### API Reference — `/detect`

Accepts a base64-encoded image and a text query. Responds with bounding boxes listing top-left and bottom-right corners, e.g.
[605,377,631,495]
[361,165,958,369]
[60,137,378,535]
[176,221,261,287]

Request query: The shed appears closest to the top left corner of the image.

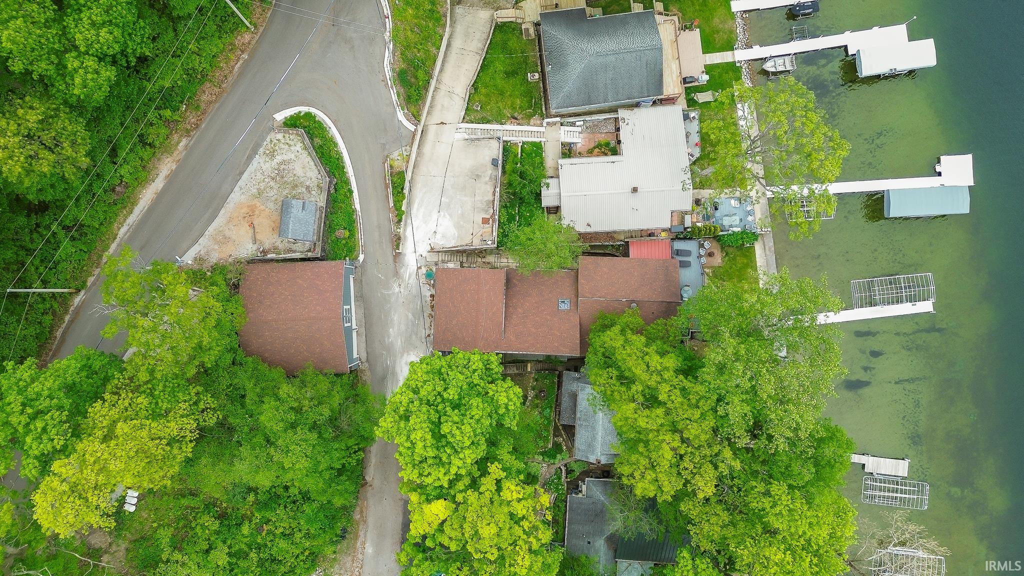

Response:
[279,199,320,242]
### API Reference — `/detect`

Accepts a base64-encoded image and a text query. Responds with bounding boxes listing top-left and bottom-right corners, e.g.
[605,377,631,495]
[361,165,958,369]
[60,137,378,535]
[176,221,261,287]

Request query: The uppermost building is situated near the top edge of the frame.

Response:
[540,6,664,114]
